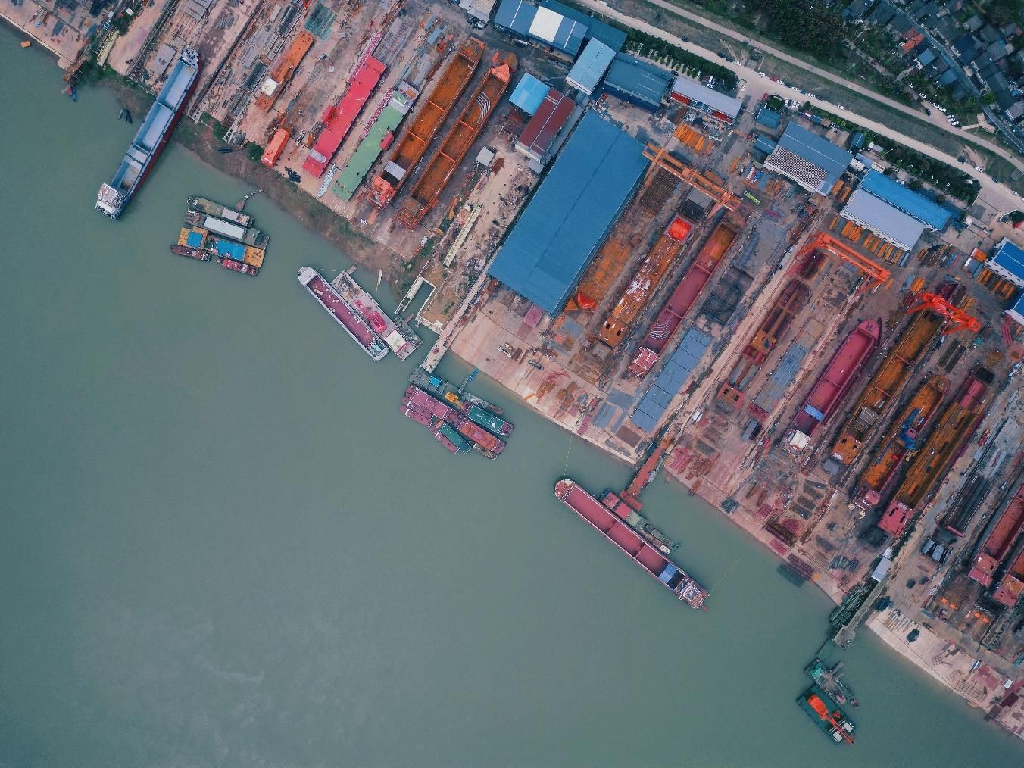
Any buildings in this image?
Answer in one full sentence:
Yes, you can see a building in this photo.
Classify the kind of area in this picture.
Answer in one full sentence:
It's a port.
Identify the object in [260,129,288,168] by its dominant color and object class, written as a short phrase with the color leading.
red boat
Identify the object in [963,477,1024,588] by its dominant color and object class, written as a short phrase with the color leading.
red ship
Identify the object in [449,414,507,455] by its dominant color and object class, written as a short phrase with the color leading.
red ship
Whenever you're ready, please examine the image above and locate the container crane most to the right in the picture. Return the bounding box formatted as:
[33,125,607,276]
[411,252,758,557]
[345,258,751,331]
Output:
[904,288,980,339]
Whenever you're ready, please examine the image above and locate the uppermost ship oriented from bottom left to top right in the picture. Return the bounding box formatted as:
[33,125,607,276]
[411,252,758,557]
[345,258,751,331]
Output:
[256,34,312,112]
